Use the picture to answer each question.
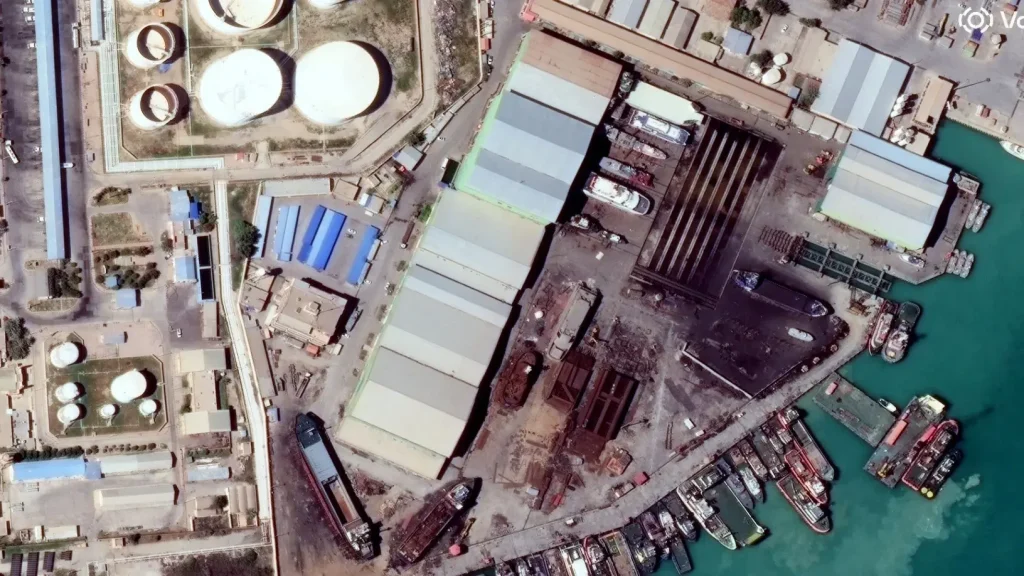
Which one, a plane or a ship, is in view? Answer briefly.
ship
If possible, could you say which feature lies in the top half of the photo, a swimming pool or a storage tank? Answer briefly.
storage tank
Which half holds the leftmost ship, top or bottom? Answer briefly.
bottom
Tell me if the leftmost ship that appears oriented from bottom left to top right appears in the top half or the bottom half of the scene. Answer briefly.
bottom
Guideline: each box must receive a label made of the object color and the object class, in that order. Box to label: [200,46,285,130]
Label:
white storage tank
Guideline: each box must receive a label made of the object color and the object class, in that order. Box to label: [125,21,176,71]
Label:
white storage tank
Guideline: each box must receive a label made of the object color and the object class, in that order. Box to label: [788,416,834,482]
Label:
gray ship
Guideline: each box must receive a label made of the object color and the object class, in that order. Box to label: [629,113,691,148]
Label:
white vessel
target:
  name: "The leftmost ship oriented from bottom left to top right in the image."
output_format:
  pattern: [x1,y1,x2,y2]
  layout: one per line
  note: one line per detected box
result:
[391,479,474,564]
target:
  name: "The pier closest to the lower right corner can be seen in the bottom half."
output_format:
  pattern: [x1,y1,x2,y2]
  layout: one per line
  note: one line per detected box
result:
[811,372,897,448]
